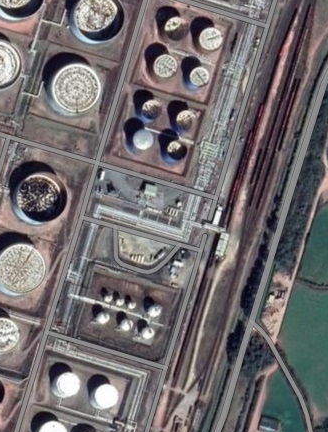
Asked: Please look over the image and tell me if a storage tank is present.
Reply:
Yes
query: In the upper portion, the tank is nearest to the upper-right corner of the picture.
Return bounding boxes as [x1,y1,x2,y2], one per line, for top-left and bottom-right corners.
[193,27,225,56]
